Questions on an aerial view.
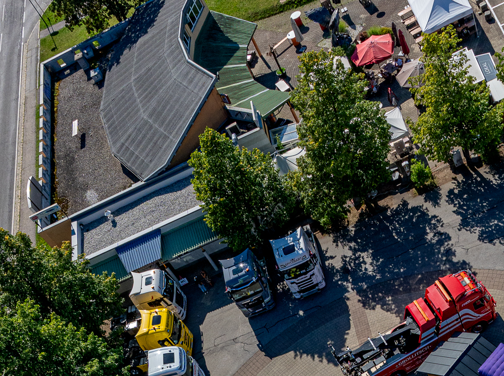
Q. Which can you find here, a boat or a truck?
truck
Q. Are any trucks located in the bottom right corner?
Yes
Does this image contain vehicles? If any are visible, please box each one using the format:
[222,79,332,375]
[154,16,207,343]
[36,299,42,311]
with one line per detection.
[221,243,276,320]
[272,222,325,299]
[109,266,189,340]
[152,341,210,376]
[319,266,498,376]
[115,304,198,376]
